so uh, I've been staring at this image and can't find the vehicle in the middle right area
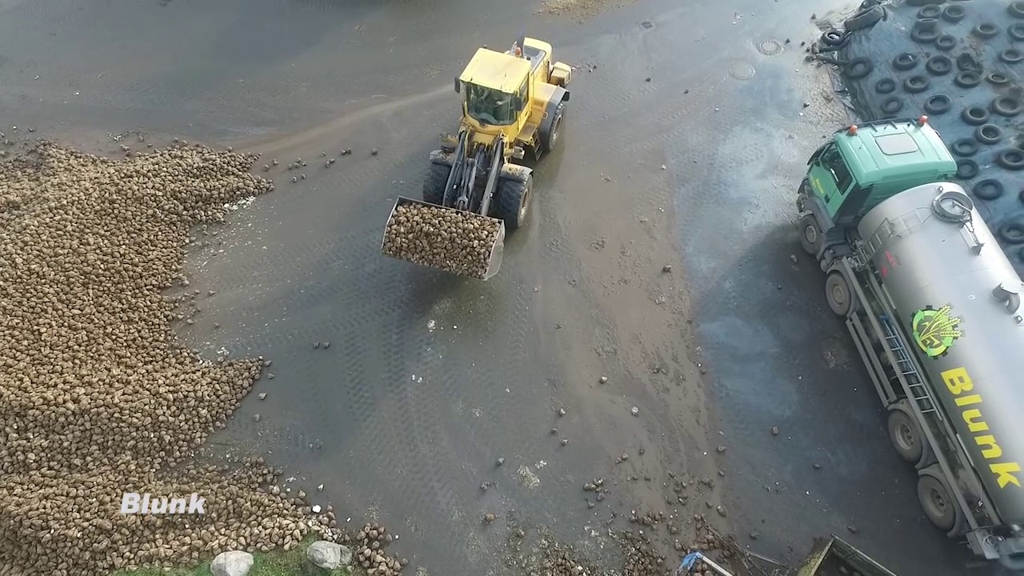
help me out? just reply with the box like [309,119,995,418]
[793,120,1024,576]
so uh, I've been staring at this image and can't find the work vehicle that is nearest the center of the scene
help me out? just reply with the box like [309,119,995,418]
[379,30,575,285]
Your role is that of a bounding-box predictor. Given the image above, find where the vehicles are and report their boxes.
[379,30,575,285]
[793,120,1024,576]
